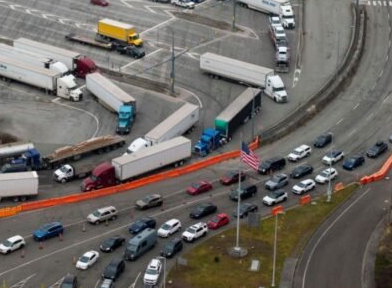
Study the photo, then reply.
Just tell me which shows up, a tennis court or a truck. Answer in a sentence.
Looking from above, you can make out a truck.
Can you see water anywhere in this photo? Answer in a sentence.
No, there's no water in this view.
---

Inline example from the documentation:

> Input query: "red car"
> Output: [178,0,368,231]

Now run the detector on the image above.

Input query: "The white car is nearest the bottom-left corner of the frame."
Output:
[0,235,26,254]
